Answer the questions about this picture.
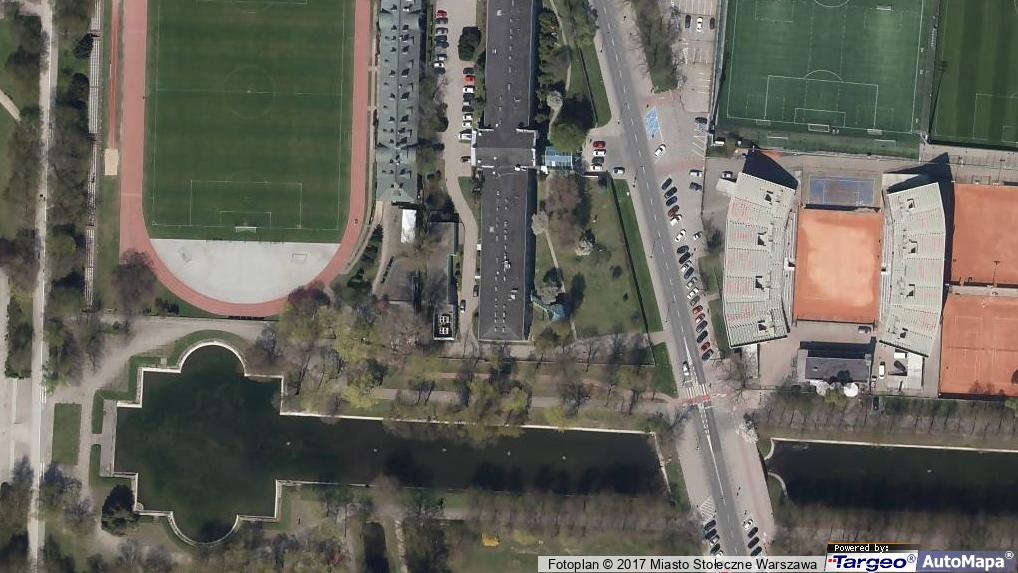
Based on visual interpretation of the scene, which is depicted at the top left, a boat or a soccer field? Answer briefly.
soccer field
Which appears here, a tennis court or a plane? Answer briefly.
tennis court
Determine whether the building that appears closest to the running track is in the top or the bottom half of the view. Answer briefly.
top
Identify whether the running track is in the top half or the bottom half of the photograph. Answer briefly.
top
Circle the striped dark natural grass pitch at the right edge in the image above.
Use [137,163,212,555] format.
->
[933,0,1018,145]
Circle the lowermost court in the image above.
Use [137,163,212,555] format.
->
[939,295,1018,396]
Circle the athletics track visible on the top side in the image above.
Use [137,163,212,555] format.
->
[119,0,369,316]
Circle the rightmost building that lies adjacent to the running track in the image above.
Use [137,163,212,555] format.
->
[470,0,537,342]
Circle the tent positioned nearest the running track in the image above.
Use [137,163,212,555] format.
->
[402,210,417,243]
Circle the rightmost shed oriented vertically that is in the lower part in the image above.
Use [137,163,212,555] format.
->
[907,353,923,388]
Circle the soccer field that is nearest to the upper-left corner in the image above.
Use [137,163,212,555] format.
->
[142,0,354,242]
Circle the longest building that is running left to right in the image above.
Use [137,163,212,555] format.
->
[795,350,872,383]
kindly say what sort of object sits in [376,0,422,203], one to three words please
building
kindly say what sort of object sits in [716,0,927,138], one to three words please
soccer field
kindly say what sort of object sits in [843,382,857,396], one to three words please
umbrella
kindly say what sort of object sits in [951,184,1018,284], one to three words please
tennis court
